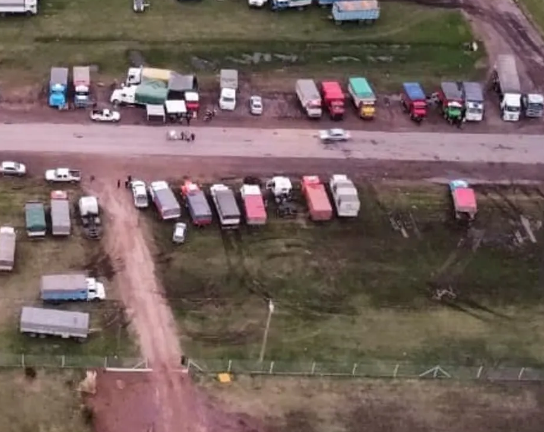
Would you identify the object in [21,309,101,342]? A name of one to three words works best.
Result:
trailer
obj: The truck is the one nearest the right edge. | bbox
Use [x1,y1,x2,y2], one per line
[522,96,544,118]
